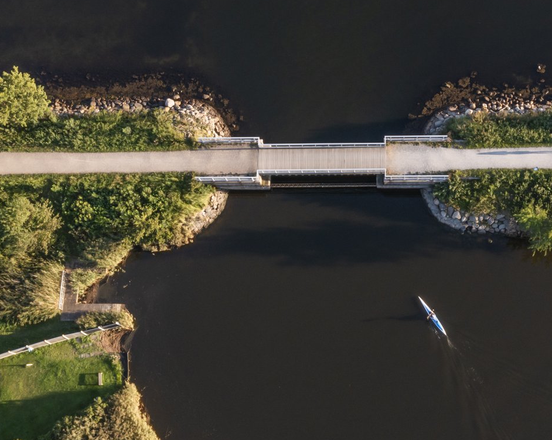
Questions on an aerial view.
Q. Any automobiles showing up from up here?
No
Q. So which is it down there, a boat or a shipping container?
boat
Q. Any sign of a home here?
No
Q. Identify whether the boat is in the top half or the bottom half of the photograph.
bottom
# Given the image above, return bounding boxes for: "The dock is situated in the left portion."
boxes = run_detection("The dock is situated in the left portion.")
[59,267,126,320]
